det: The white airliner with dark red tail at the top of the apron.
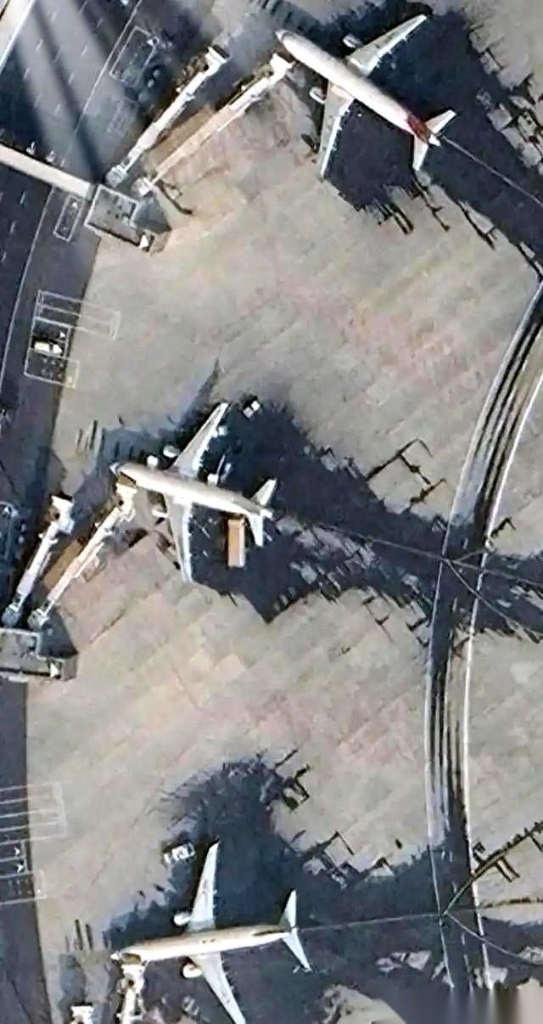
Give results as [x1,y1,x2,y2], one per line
[277,15,458,179]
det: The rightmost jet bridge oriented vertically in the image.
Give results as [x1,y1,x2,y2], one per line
[113,955,143,1024]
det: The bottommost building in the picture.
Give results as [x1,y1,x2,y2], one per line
[0,629,78,681]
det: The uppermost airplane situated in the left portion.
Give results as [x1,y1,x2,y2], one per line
[112,405,277,582]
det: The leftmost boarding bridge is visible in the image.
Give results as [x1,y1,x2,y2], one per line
[3,489,75,626]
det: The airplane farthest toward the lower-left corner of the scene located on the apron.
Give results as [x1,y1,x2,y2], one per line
[112,842,309,1024]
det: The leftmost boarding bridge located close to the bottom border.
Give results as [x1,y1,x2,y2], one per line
[64,1000,94,1024]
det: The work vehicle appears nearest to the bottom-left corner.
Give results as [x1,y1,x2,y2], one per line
[164,844,195,863]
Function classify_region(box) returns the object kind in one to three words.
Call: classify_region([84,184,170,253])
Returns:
building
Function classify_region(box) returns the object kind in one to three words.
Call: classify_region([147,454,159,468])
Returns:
vehicle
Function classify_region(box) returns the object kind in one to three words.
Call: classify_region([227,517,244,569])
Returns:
vehicle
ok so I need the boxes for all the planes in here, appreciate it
[112,842,309,1024]
[112,405,277,582]
[277,15,458,179]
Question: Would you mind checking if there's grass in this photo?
No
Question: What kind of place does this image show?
airport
